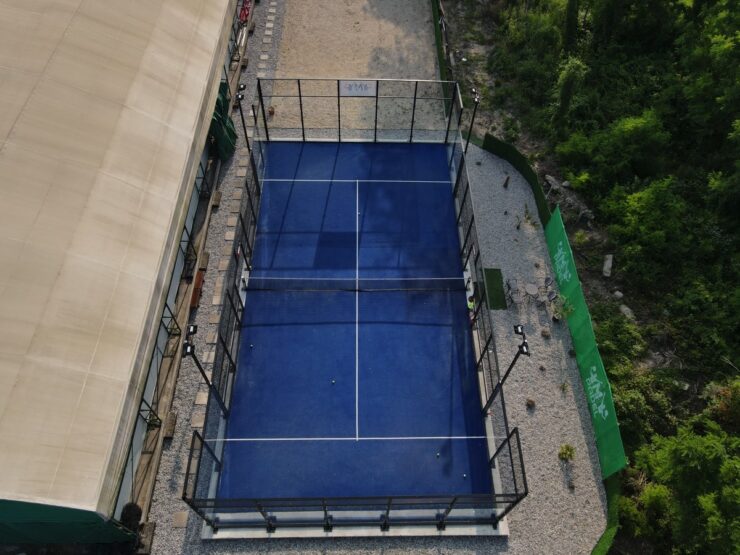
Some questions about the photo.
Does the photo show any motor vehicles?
No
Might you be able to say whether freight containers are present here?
No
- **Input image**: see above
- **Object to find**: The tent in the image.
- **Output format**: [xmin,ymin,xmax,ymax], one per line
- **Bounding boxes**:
[0,0,247,546]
